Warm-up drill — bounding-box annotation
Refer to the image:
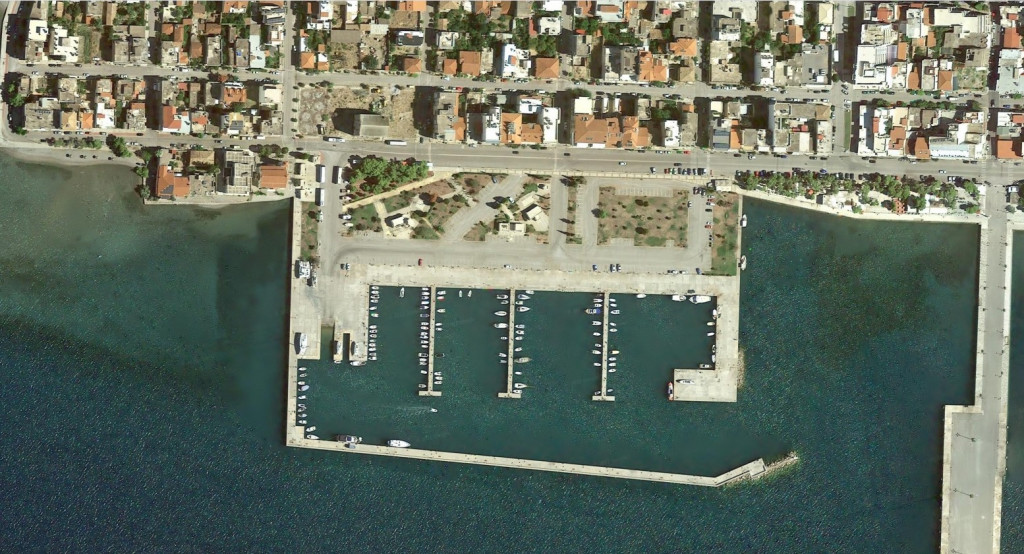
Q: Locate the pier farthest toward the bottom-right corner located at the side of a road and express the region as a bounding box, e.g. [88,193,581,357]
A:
[941,186,1012,554]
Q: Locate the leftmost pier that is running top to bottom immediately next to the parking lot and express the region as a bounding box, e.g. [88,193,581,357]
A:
[418,287,441,396]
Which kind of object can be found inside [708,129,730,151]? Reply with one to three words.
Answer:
building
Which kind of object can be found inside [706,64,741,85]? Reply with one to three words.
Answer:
building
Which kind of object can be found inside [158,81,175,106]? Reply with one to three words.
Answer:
house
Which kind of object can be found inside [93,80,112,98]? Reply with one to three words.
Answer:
house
